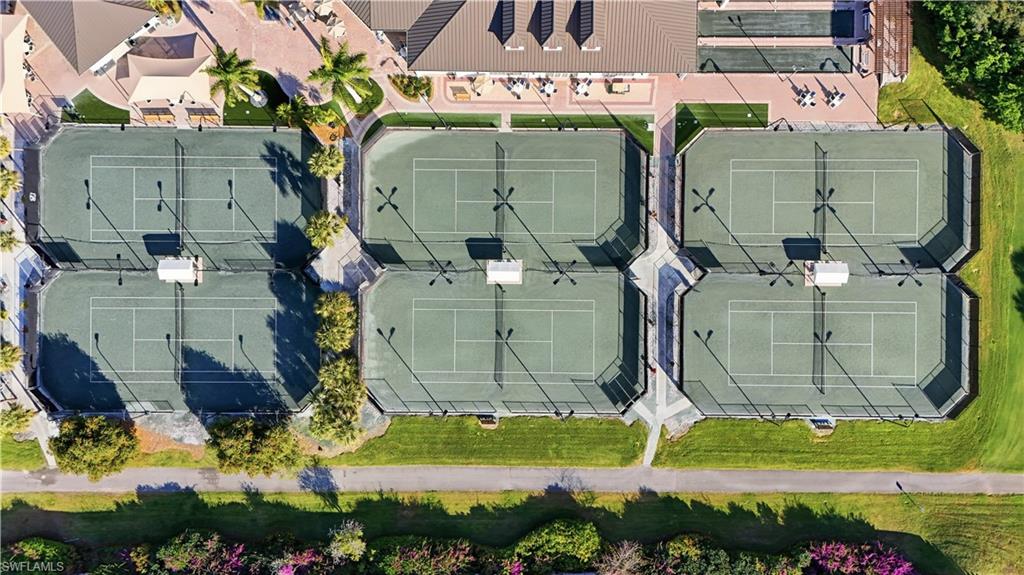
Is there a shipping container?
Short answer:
No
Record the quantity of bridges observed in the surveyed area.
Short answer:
zero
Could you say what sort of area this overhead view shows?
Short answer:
sports ground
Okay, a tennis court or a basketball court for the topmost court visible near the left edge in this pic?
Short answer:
tennis court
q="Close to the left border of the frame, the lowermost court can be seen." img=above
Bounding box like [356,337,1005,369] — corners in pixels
[38,269,322,413]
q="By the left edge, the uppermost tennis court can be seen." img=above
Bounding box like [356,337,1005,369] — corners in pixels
[38,124,322,270]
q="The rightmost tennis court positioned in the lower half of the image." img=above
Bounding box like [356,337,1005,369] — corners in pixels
[680,272,969,418]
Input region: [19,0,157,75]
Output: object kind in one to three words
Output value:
building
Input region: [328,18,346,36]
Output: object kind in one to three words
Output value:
umbrella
